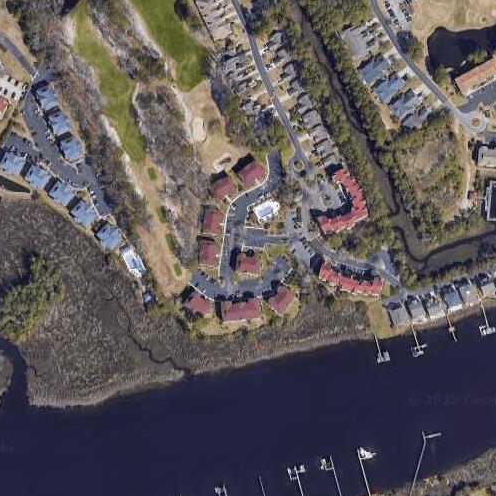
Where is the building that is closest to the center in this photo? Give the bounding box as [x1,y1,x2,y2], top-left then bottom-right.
[237,254,260,275]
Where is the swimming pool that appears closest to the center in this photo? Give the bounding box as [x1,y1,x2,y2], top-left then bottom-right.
[254,199,279,222]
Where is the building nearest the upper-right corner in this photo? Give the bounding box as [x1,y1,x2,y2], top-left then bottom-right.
[453,57,496,98]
